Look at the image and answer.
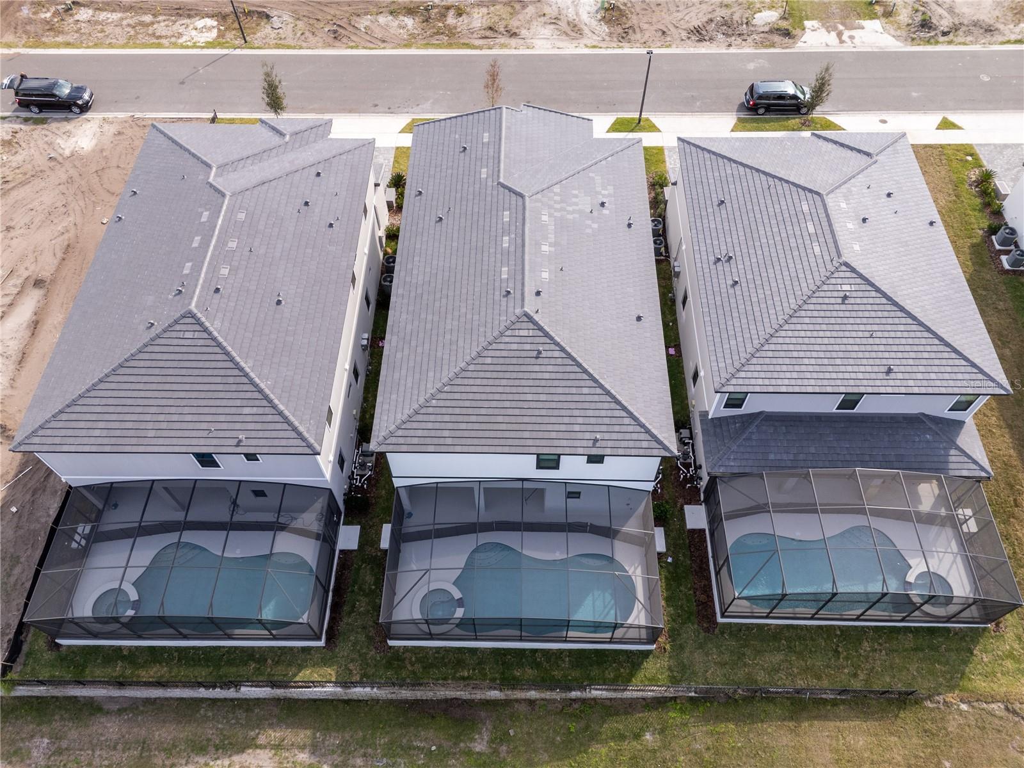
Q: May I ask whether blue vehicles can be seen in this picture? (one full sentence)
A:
No, there is no blue vehicle in the image.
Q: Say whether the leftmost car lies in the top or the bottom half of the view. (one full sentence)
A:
The leftmost car sits in the top half of the picture.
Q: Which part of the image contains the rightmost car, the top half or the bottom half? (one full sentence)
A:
The rightmost car sits in the top half of the picture.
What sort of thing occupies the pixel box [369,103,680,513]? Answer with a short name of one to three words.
house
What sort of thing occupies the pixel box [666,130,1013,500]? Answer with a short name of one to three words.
house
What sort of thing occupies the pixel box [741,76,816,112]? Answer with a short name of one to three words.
car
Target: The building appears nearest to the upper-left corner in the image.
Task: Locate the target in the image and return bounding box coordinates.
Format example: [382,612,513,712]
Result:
[9,117,387,511]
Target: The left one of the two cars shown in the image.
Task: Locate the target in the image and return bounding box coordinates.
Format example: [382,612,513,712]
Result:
[0,72,99,113]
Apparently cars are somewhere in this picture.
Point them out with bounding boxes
[0,72,99,113]
[741,76,816,112]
